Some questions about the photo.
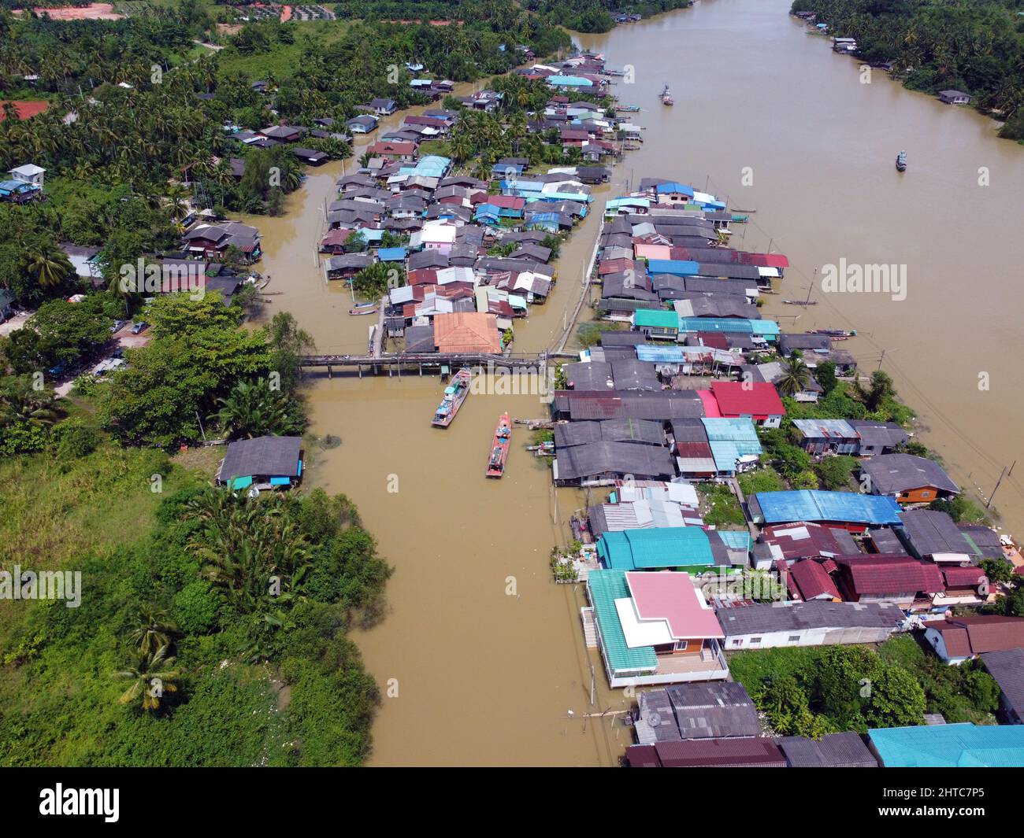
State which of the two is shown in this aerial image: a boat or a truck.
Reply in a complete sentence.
Looking from above, you can make out a boat.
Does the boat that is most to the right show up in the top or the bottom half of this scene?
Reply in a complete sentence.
The top half of the photo is where the boat that is most to the right is.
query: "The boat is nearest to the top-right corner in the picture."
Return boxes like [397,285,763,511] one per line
[890,142,911,168]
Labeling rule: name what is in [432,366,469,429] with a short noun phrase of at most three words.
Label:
boat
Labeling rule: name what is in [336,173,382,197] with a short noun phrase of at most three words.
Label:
house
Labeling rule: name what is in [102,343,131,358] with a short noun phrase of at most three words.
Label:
car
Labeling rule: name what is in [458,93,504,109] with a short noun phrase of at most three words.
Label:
house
